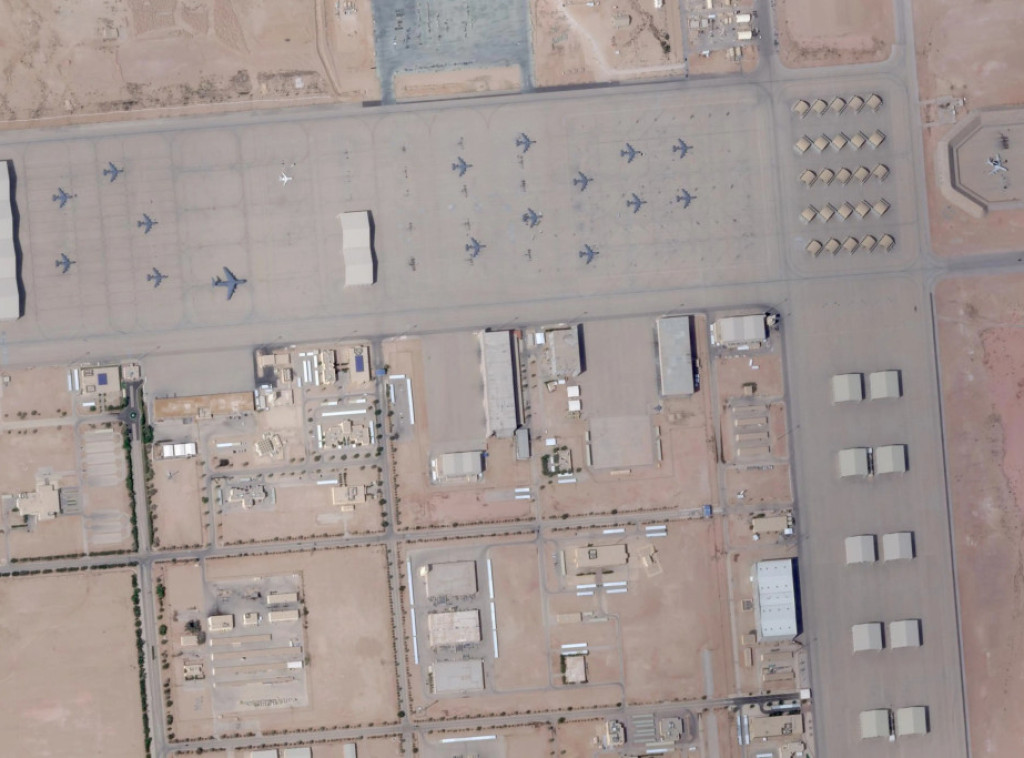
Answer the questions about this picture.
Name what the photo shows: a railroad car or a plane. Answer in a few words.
plane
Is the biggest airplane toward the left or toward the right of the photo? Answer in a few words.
left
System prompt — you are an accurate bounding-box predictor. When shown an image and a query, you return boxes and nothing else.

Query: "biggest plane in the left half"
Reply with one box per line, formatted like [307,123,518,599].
[210,267,247,301]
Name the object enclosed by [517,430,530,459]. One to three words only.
shed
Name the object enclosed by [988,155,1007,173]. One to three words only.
airplane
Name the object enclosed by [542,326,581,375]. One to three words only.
hangar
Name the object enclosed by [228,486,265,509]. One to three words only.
building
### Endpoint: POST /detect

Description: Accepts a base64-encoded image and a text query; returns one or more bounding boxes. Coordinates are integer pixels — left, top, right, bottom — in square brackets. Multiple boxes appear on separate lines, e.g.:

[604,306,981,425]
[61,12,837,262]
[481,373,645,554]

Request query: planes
[676,188,696,208]
[147,267,167,287]
[572,171,592,191]
[522,207,542,227]
[103,162,123,181]
[672,139,692,159]
[620,143,641,163]
[626,193,647,213]
[515,133,536,152]
[137,214,157,233]
[279,172,292,186]
[579,244,599,263]
[55,253,75,273]
[465,237,485,256]
[988,155,1007,173]
[451,157,472,176]
[210,267,247,301]
[52,188,72,207]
